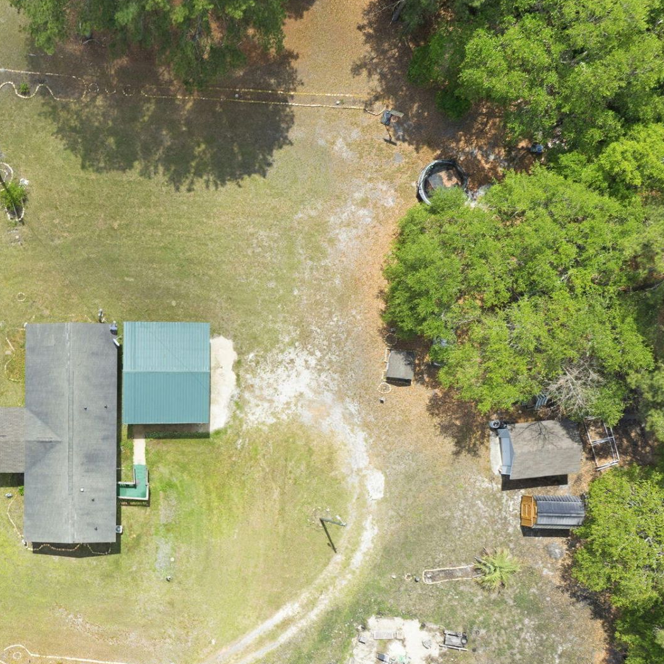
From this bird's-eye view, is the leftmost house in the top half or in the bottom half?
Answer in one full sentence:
The bottom half of the photo is where the leftmost house is.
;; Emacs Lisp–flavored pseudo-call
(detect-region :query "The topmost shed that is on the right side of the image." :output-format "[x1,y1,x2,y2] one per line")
[382,350,415,379]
